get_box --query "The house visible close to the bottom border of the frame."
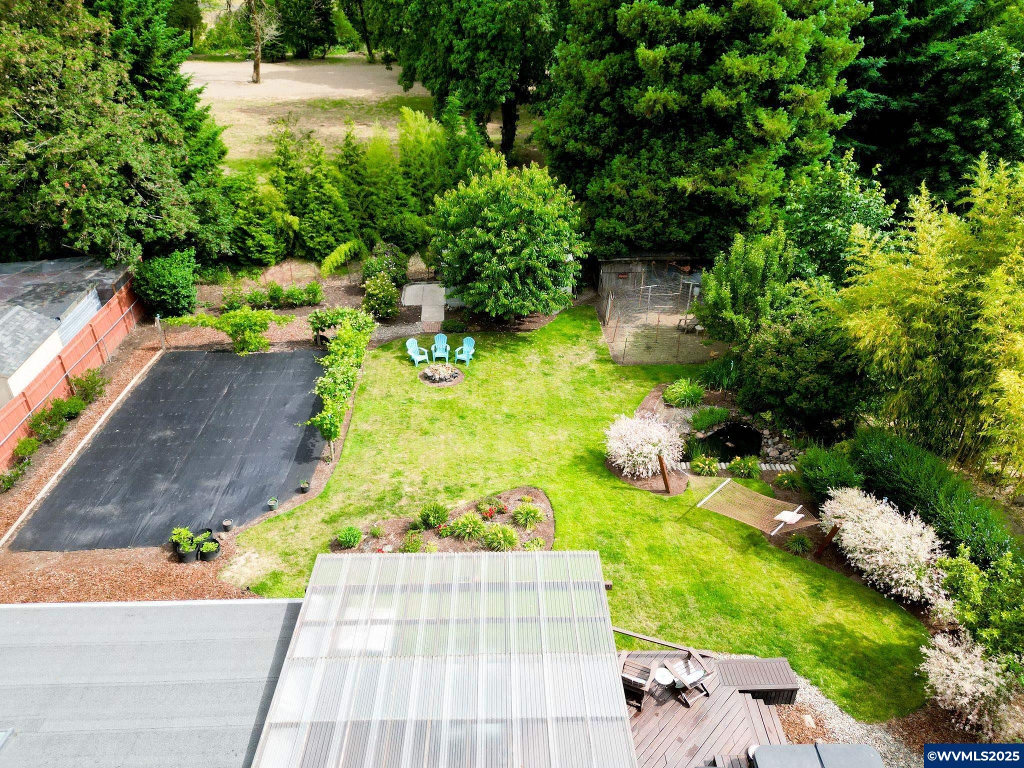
[0,600,301,768]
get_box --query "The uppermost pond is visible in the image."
[675,409,808,467]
